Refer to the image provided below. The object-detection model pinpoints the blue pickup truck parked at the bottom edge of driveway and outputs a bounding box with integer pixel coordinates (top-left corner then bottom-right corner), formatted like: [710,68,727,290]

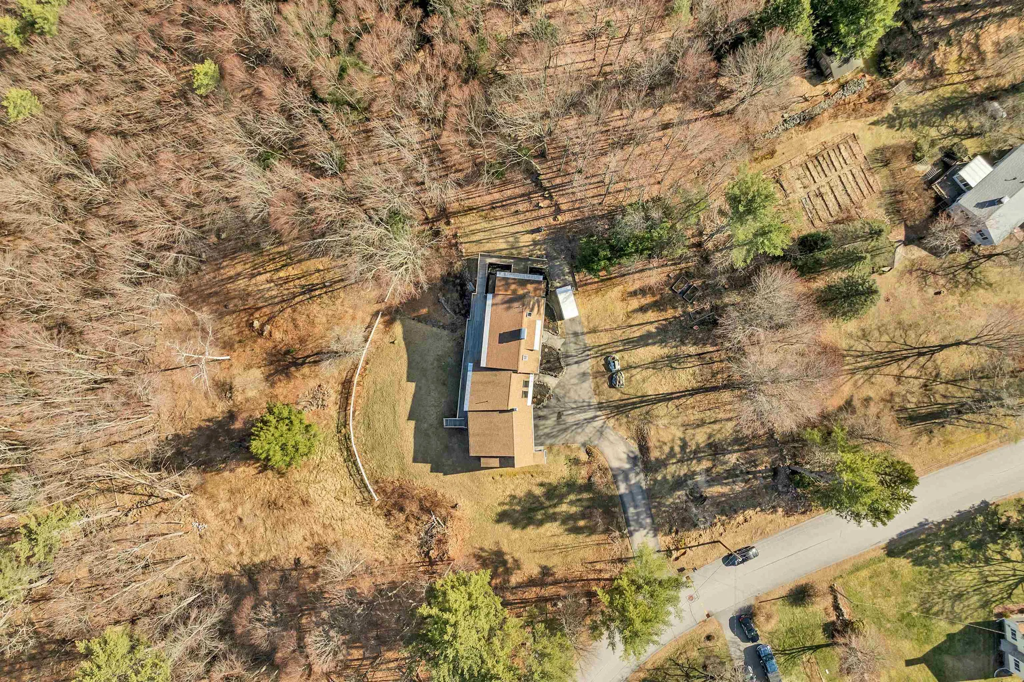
[758,647,785,682]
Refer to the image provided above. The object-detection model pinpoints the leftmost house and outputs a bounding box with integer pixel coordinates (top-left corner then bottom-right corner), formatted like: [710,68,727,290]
[463,272,547,468]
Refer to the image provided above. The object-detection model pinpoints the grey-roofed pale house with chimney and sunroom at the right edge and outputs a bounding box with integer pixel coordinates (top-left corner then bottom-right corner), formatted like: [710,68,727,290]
[942,138,1024,248]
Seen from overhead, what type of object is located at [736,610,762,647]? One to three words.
car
